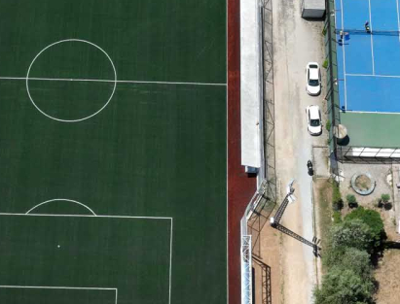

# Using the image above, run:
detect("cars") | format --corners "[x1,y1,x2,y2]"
[305,65,321,96]
[307,106,323,137]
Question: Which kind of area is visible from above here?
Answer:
sports ground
